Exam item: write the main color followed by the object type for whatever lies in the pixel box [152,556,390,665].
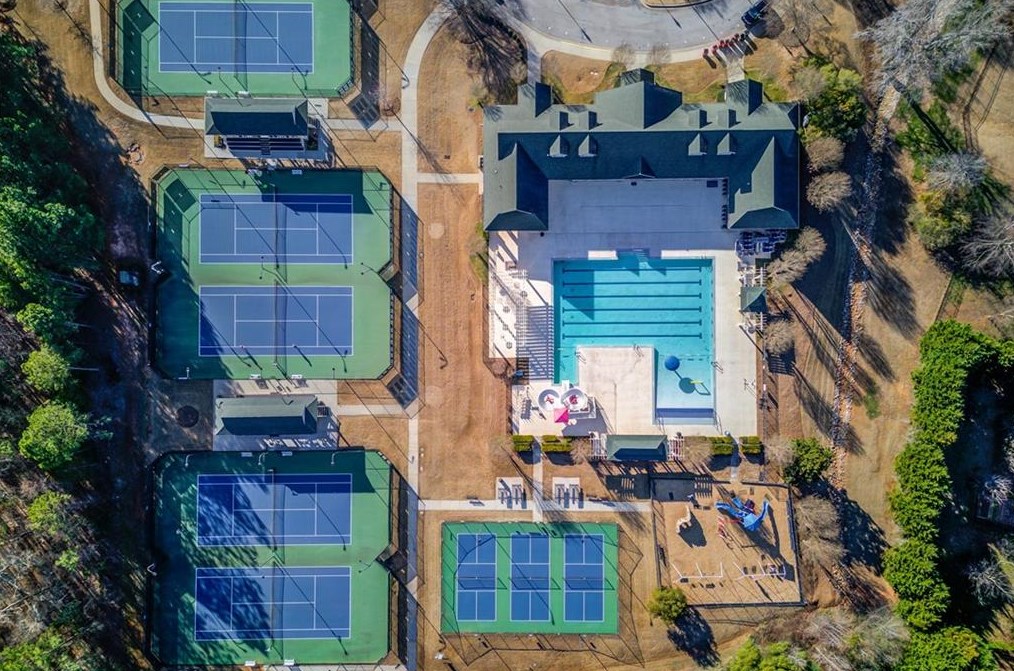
blue tennis court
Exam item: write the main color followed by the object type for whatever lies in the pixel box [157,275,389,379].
blue tennis court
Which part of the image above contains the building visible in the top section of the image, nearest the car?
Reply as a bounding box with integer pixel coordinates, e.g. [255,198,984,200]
[483,69,808,232]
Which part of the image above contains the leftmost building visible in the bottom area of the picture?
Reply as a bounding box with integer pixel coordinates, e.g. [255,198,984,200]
[216,397,322,435]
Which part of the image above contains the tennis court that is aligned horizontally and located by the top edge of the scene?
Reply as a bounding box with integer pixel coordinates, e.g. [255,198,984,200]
[119,0,352,96]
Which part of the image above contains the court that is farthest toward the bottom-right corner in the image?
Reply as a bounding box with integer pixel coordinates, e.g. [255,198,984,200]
[558,523,618,633]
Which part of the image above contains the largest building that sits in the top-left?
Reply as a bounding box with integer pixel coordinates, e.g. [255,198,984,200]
[204,98,313,141]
